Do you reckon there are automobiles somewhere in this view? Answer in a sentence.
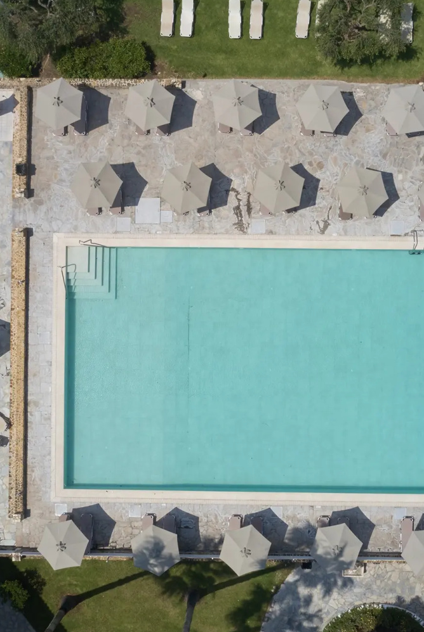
No, I can't see a single automobile in this photo.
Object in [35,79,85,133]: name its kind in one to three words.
umbrella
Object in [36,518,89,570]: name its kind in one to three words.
umbrella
